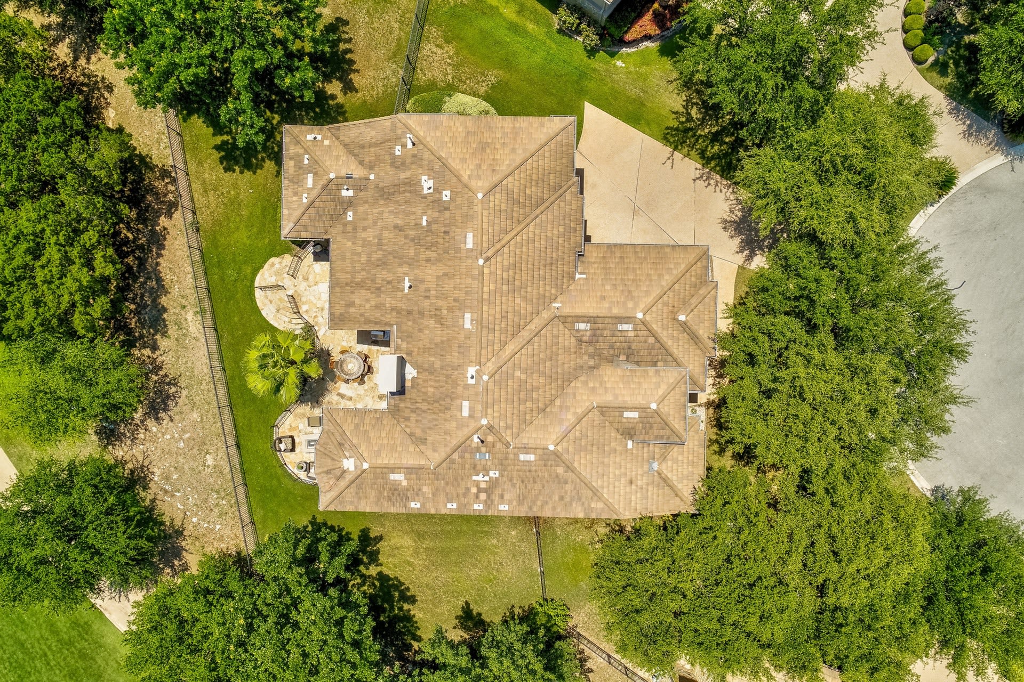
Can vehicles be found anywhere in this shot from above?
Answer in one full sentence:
No, this view has no vehicle in it.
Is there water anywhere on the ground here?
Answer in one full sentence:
No, there is no water in the image.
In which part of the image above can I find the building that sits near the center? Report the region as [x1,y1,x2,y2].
[280,112,720,519]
